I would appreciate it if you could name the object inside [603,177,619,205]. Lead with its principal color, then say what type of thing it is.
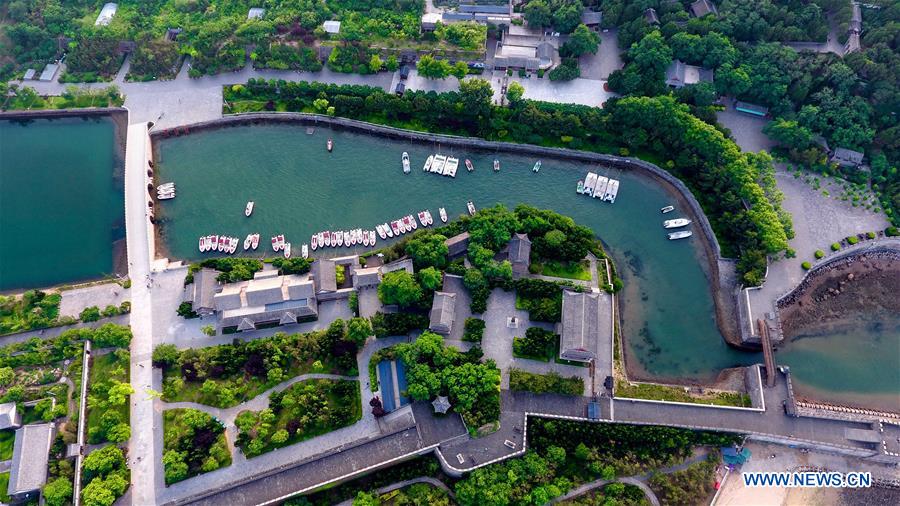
white boat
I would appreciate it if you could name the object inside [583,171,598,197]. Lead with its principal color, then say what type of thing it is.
white boat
